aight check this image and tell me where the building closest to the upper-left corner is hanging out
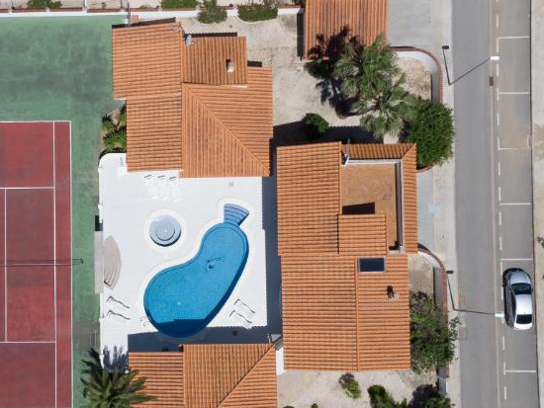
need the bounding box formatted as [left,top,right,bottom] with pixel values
[112,19,273,177]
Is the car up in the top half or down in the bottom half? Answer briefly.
bottom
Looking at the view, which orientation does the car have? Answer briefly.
vertically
